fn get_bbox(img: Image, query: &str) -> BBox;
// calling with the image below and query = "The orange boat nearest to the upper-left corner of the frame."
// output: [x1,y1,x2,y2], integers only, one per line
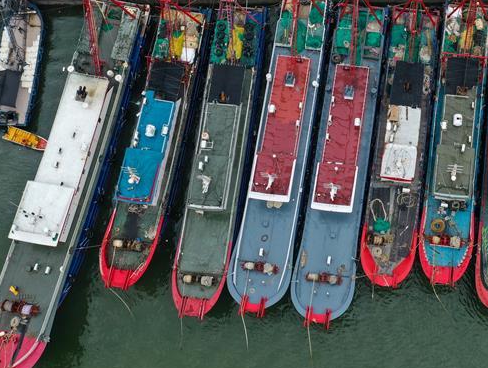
[1,128,44,149]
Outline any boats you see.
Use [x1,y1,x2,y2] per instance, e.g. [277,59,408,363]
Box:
[420,0,488,291]
[293,0,387,328]
[173,0,266,324]
[1,128,44,149]
[0,0,47,126]
[102,0,208,294]
[363,0,439,293]
[0,0,155,368]
[229,0,330,320]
